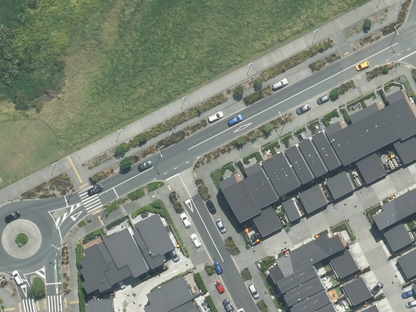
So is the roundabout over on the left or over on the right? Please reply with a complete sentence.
The roundabout appears in the left half of the scene.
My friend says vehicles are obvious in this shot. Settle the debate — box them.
[170,250,179,264]
[208,111,223,122]
[272,78,288,90]
[205,198,217,214]
[180,212,192,228]
[401,290,415,298]
[296,104,311,114]
[88,184,102,194]
[316,94,330,104]
[216,219,226,233]
[212,261,223,275]
[248,284,258,298]
[354,60,370,70]
[190,233,202,247]
[214,280,225,294]
[371,281,382,295]
[222,298,233,312]
[6,211,20,222]
[228,114,243,126]
[138,160,152,170]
